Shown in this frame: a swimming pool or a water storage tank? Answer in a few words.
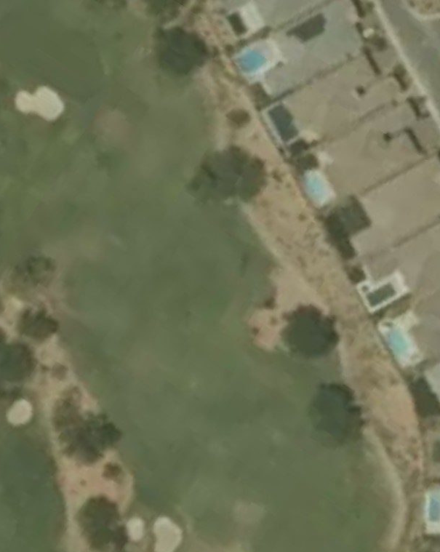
swimming pool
